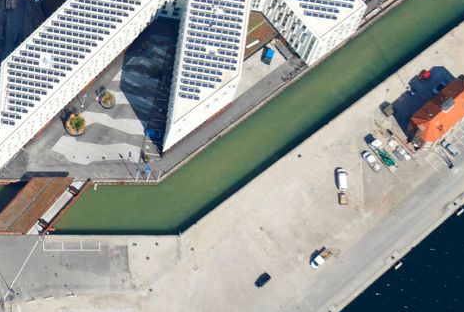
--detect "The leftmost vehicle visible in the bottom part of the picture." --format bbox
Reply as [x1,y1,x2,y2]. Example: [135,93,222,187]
[254,272,270,285]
